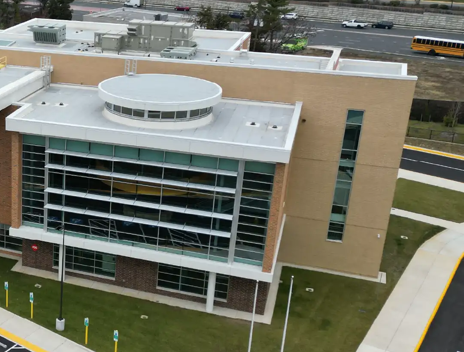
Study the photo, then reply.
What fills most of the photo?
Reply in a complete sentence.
Most of the picture is covered by buildings.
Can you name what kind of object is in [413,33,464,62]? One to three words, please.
bus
